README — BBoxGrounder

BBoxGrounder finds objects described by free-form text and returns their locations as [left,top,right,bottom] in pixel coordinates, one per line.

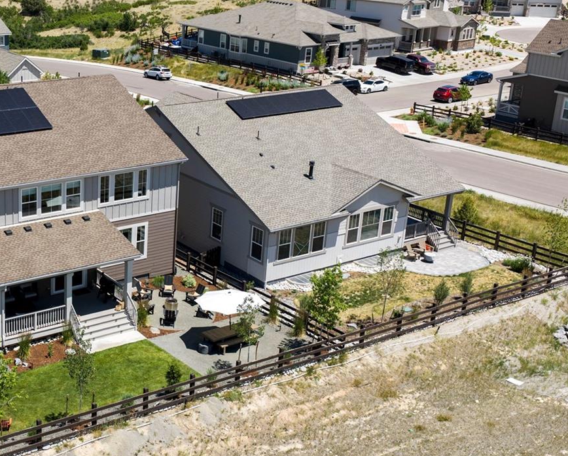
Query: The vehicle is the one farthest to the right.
[462,69,492,84]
